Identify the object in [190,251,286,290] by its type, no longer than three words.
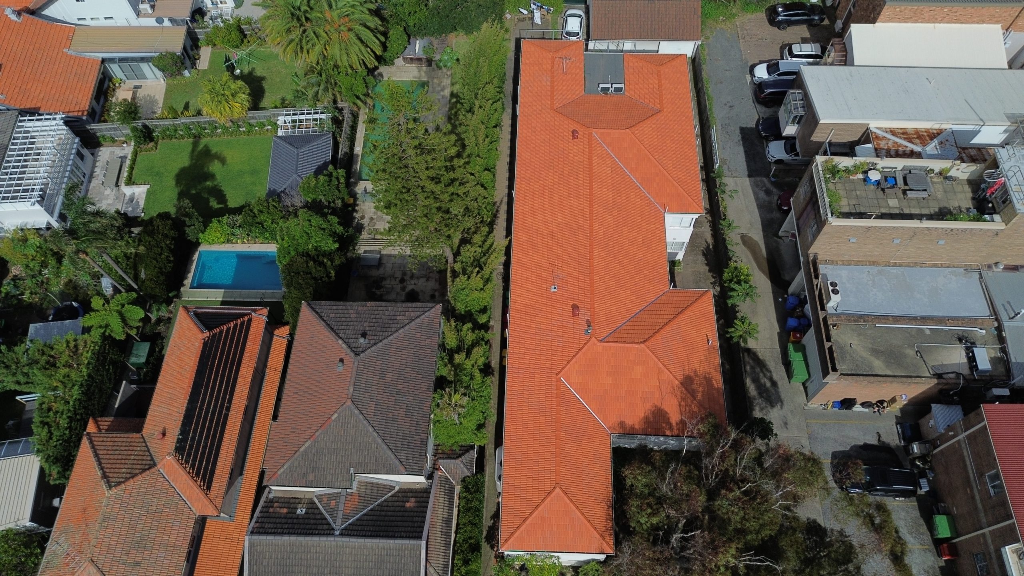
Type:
swimming pool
